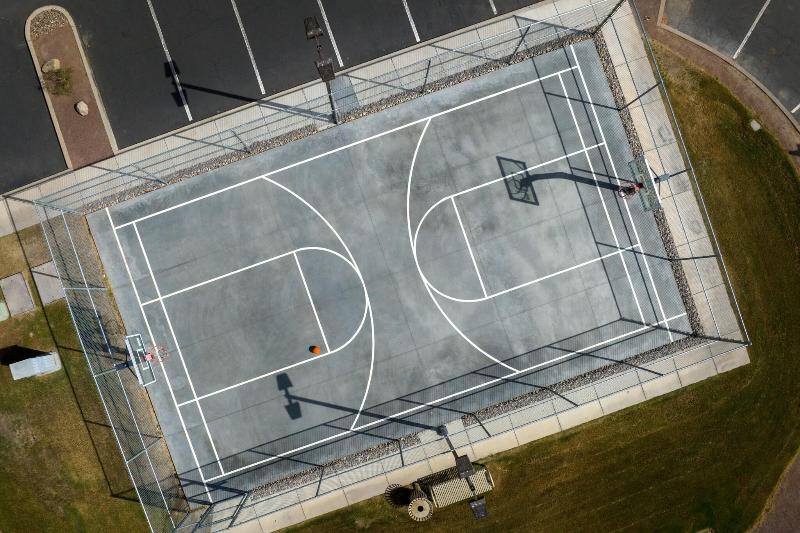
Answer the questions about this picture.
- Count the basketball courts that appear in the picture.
1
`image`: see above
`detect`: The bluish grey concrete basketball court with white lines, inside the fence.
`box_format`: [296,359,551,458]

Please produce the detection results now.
[84,38,694,511]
